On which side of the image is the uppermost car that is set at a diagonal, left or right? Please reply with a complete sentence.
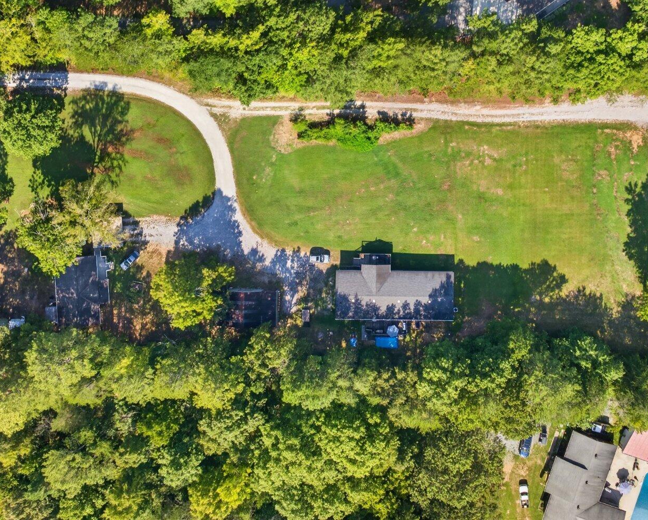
It is on the left.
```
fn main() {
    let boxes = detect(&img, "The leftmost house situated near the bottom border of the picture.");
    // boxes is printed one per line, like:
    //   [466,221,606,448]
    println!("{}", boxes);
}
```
[531,429,626,520]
